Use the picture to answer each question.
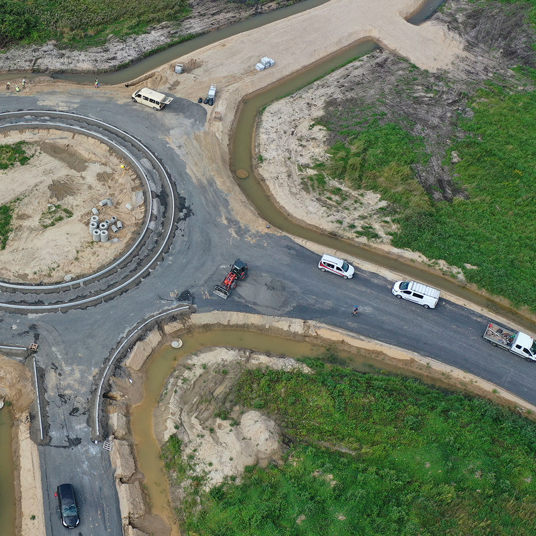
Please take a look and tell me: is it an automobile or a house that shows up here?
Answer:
automobile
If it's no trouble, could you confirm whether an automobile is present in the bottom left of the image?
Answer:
Yes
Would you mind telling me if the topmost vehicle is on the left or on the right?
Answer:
left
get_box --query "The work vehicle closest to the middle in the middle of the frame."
[213,265,241,298]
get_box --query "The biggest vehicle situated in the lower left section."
[56,484,81,528]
